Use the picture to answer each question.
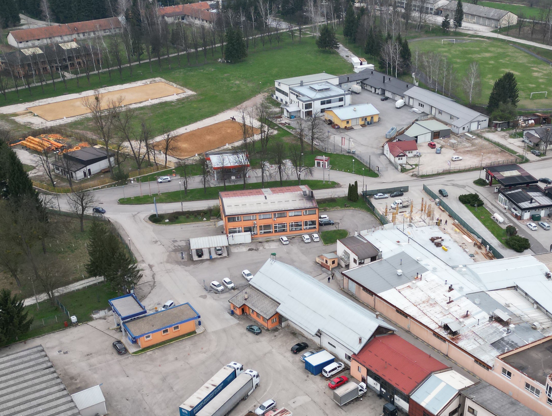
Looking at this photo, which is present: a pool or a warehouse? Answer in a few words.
warehouse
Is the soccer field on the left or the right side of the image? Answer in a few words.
right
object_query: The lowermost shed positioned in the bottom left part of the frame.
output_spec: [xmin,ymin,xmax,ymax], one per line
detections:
[70,384,107,416]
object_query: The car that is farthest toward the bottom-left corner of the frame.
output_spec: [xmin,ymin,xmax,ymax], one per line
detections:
[113,342,127,356]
